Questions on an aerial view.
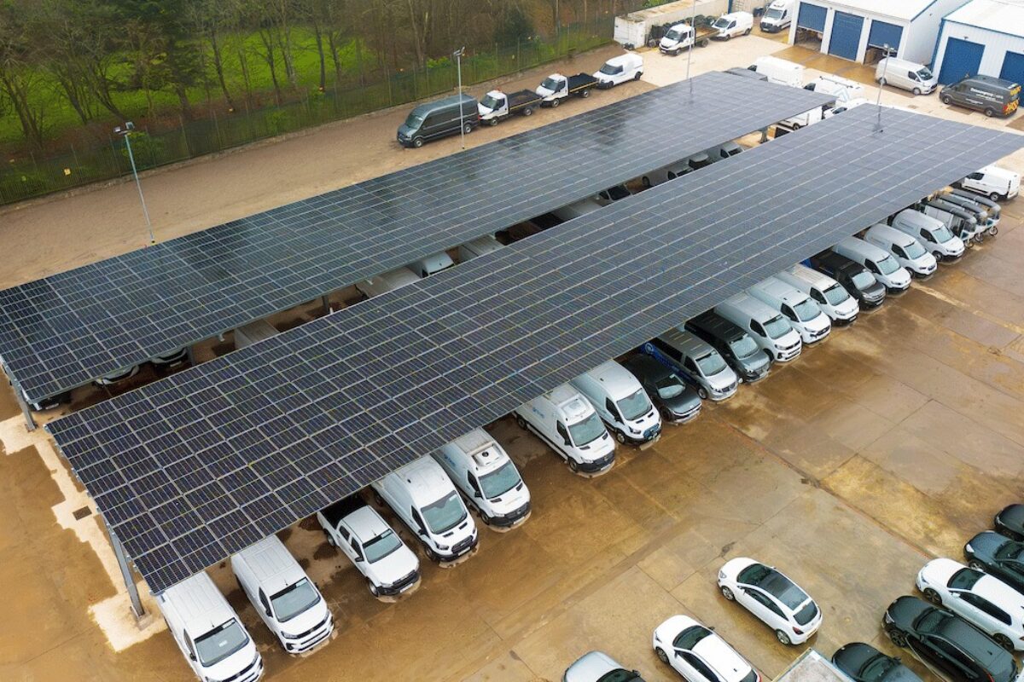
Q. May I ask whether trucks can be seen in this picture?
Yes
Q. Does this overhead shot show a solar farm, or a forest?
solar farm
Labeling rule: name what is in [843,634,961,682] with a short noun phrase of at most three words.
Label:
car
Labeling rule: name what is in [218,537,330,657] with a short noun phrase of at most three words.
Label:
van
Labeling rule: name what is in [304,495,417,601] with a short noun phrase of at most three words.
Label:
truck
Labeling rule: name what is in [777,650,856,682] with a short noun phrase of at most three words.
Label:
trailer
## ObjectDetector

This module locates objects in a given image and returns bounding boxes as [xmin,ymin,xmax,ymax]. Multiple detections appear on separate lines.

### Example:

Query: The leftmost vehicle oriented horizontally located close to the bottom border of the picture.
[575,645,660,682]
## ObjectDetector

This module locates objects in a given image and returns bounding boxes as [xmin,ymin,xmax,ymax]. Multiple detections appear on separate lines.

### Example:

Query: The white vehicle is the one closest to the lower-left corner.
[140,575,257,682]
